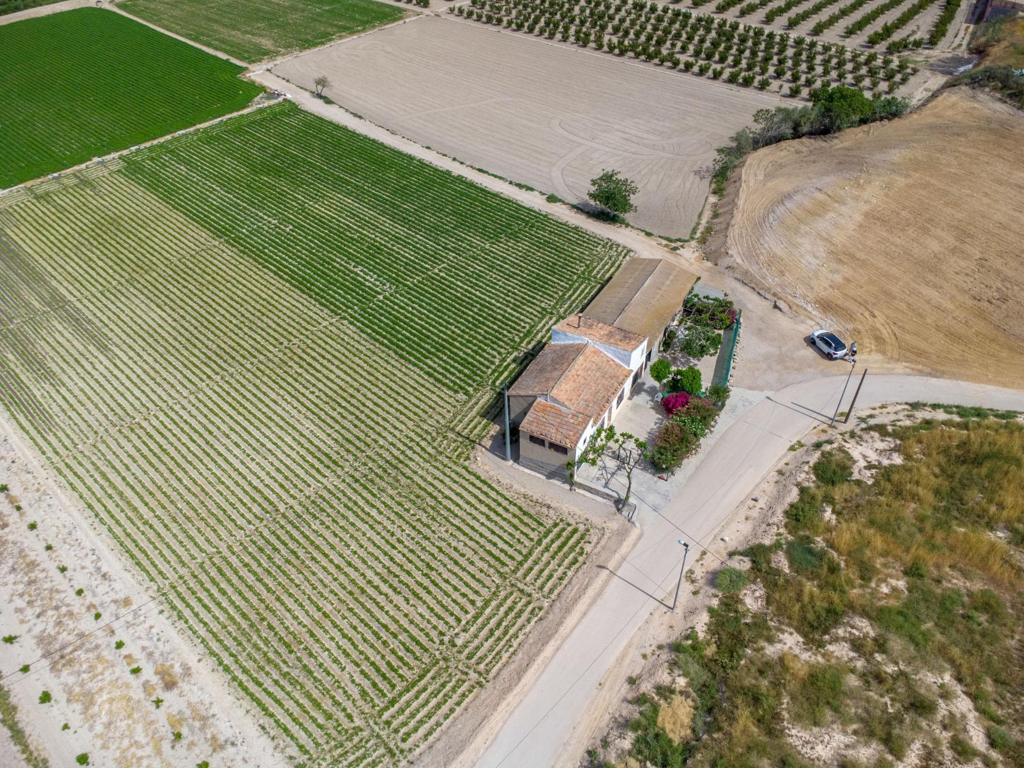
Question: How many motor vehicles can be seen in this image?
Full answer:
The count comes to 1 motor vehicle.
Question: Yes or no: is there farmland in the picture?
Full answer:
Yes, farmland shows up in the scene.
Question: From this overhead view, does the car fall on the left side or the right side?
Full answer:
The car appears in the right half of the scene.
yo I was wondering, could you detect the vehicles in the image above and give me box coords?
[810,331,851,361]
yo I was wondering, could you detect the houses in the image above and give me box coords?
[503,312,651,489]
[981,0,1024,22]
